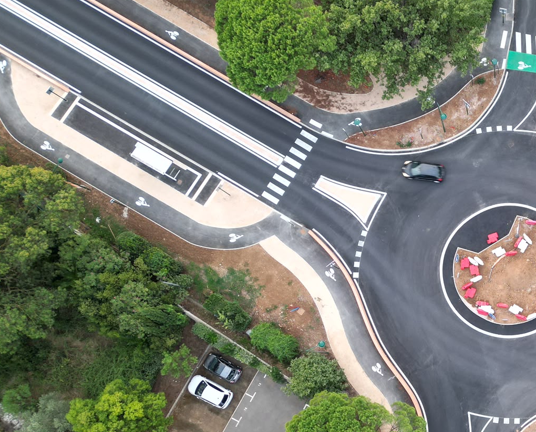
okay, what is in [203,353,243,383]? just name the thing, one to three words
car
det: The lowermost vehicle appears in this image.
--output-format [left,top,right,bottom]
[188,376,233,408]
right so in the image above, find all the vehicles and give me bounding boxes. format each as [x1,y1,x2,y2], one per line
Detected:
[401,159,446,184]
[203,353,243,383]
[188,376,233,408]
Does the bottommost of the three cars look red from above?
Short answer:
No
